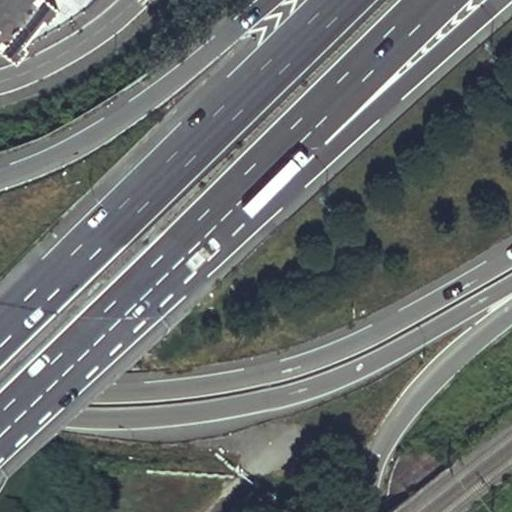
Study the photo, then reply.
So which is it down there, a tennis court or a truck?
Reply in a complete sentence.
The image shows a truck.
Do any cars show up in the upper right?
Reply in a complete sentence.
Yes, the scene does show a car in the upper right.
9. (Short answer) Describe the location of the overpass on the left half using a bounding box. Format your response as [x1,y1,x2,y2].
[0,302,169,484]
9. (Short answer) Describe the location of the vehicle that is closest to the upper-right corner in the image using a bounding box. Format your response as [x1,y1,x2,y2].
[374,36,395,56]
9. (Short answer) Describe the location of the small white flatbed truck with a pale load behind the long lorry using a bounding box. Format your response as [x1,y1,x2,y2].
[188,240,220,270]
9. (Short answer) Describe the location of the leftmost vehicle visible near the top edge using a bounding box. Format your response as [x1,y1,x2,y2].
[240,6,261,28]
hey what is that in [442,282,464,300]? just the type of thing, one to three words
car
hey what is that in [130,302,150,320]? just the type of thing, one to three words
car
